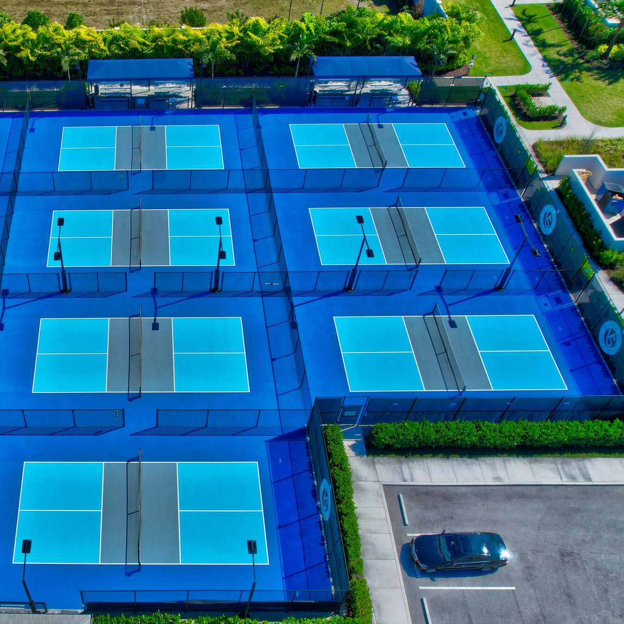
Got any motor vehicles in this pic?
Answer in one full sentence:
Yes, the image includes a motor vehicle.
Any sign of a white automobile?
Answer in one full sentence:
No, this view has no white automobile in it.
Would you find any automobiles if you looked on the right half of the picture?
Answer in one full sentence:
Yes, I can see an automobile on the right half of the picture.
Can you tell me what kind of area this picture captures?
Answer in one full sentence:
This looks like a sports ground.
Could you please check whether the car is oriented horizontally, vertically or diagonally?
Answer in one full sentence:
The car is laid out horizontally.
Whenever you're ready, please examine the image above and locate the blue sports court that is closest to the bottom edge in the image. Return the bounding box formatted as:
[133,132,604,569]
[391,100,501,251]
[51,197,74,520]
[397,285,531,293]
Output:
[0,426,333,605]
